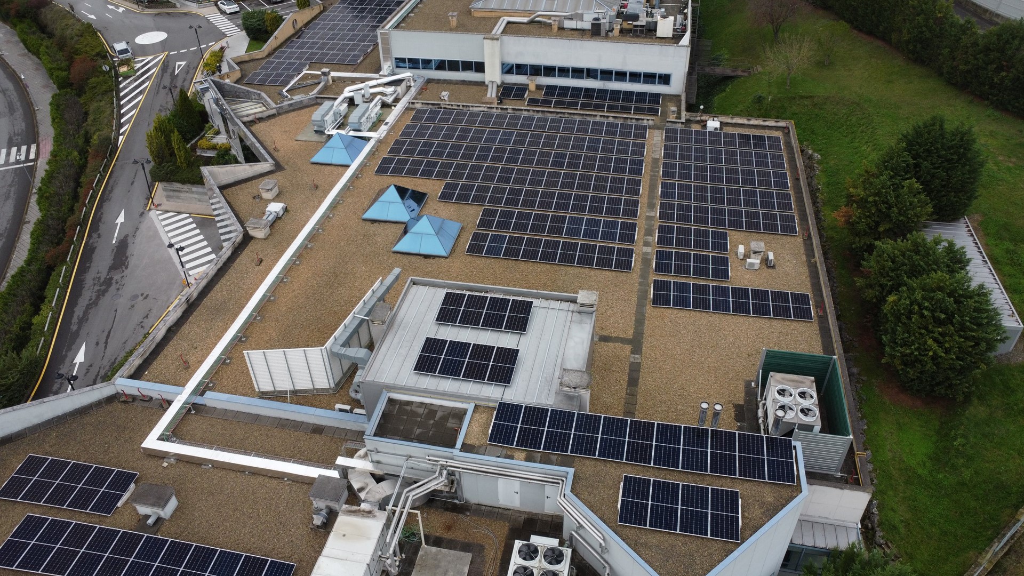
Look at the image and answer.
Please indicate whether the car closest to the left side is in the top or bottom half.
top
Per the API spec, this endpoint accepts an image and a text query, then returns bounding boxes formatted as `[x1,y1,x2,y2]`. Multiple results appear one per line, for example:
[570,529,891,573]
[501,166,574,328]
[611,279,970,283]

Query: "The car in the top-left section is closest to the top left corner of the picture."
[108,37,134,60]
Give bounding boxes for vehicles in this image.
[214,0,239,14]
[108,37,134,60]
